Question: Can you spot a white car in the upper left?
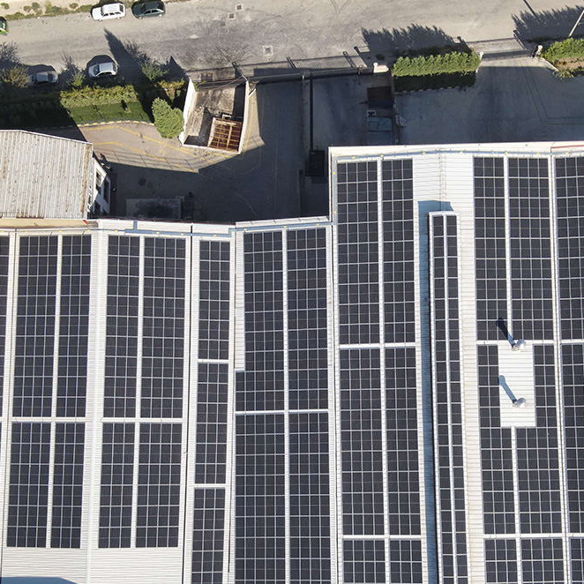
Yes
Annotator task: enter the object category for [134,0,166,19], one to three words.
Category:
car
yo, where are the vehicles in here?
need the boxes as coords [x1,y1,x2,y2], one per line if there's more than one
[0,18,10,36]
[28,69,60,88]
[92,3,126,21]
[88,59,119,78]
[134,0,166,19]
